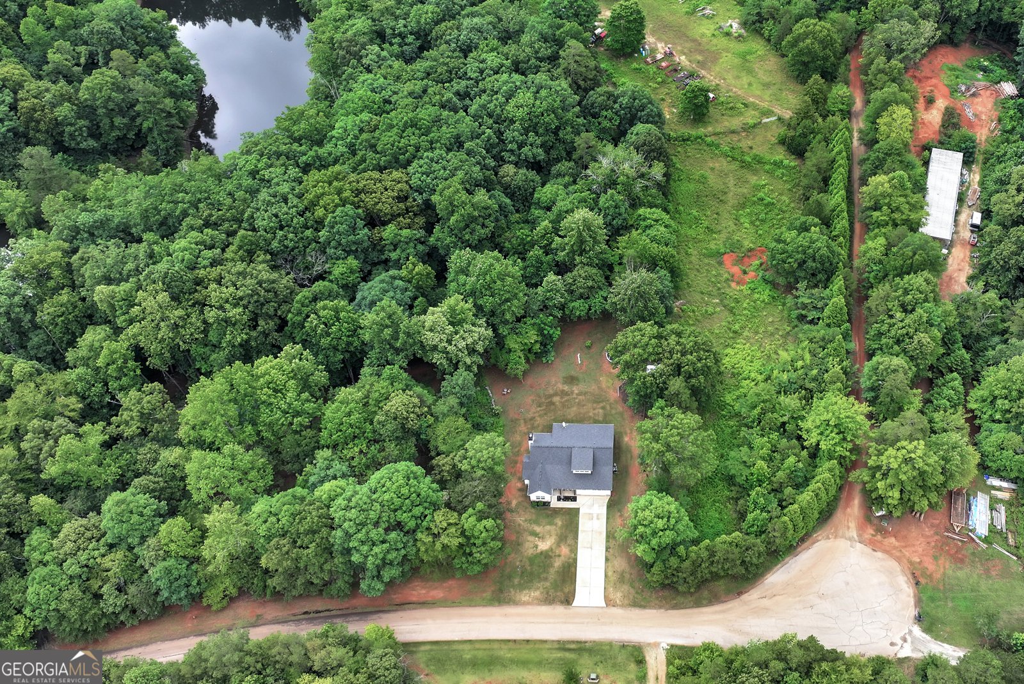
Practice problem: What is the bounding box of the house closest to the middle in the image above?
[522,422,615,501]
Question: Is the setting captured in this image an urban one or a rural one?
rural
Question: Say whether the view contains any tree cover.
Yes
